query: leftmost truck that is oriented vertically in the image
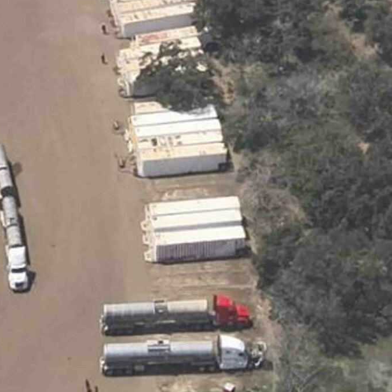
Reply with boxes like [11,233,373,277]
[0,146,30,293]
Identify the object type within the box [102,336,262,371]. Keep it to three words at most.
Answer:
truck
